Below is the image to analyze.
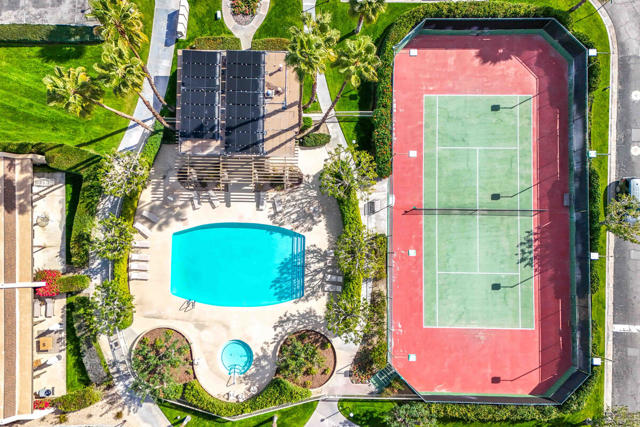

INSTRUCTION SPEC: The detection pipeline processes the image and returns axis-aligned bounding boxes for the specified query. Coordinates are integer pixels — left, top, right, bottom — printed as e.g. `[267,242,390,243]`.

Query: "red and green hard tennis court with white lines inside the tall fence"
[385,29,574,393]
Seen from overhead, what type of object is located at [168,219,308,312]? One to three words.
swimming pool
